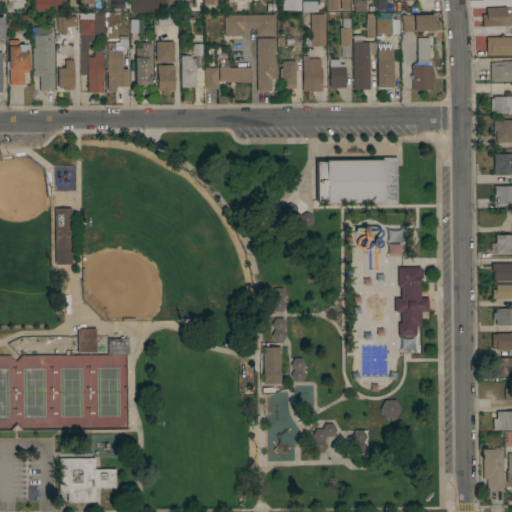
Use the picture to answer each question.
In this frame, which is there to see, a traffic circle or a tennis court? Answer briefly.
tennis court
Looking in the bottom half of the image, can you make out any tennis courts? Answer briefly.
Yes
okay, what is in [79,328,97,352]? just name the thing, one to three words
building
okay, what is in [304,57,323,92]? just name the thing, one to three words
house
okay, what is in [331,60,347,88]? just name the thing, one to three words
house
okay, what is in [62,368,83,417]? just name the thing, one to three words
tennis court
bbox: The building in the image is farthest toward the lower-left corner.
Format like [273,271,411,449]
[60,458,118,503]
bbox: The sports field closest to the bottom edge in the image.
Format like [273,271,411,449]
[138,333,238,506]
